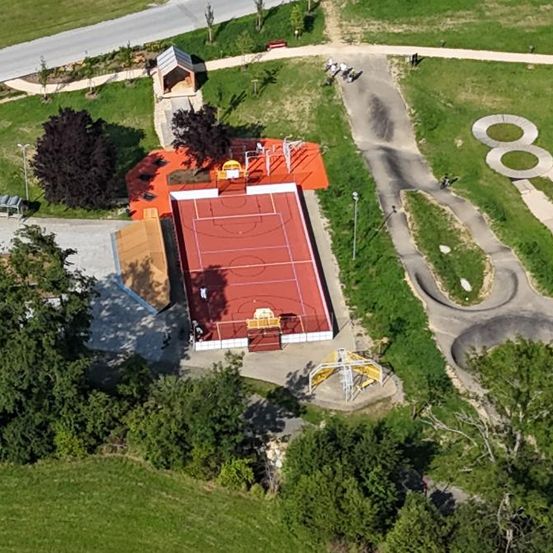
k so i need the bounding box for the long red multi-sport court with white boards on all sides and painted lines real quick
[172,167,334,355]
